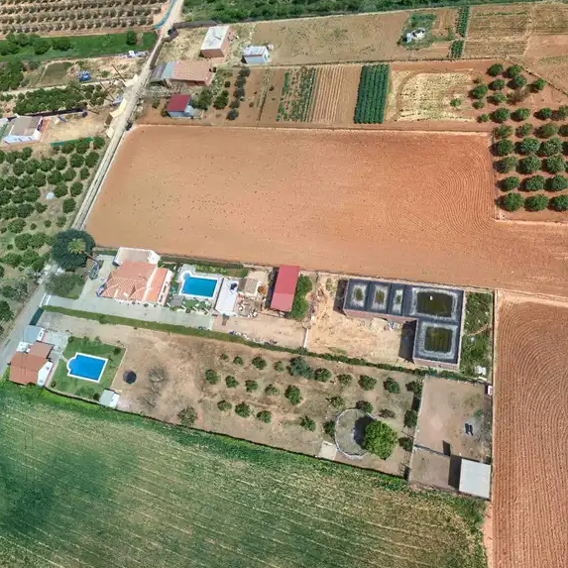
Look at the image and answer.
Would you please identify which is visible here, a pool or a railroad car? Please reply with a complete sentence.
The one in the frame is a pool.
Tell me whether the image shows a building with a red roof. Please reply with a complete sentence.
Yes, this view includes a building with a red roof.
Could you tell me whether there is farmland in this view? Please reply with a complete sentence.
Yes, farmland can be seen from above here.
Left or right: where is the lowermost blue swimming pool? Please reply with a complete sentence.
The lowermost blue swimming pool appears in the left half of the scene.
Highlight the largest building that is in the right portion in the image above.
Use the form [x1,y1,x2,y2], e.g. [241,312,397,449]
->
[344,279,464,369]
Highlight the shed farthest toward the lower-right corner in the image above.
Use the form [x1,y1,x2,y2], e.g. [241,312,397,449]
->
[459,459,491,500]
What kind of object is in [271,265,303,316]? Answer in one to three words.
shed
